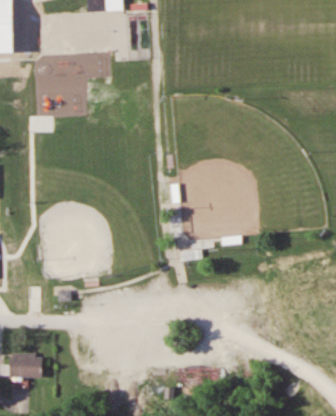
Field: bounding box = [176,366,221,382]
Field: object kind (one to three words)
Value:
shed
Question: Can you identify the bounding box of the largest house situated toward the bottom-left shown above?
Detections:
[10,353,42,378]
